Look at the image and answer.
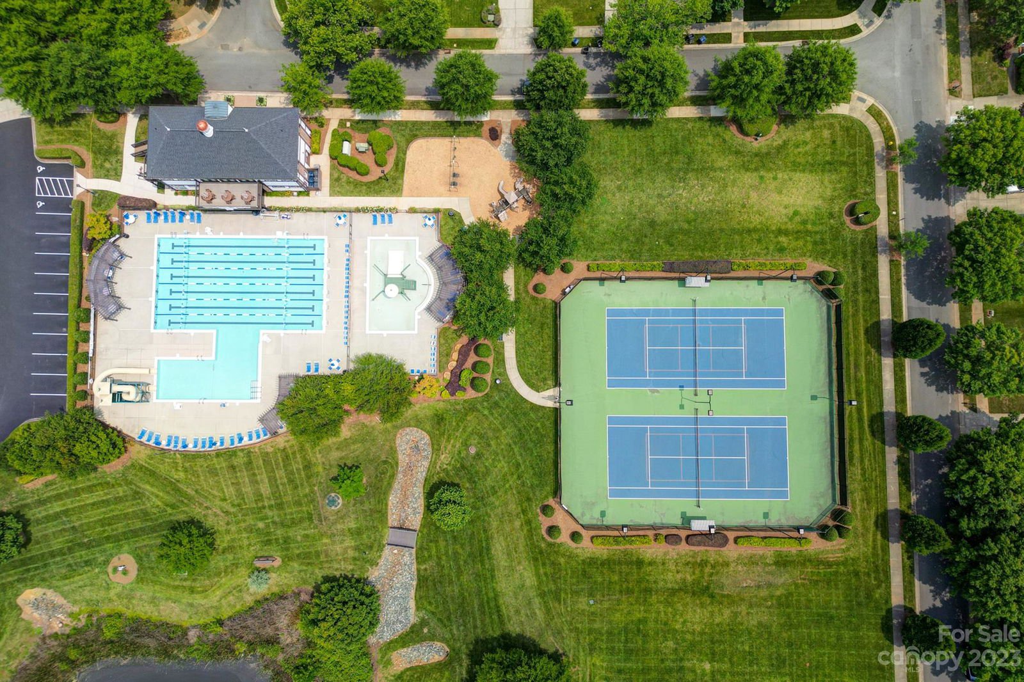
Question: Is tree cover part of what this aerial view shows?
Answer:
Yes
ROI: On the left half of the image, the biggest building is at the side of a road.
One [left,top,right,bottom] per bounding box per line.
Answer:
[131,99,311,213]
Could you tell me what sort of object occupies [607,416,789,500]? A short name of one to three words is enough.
tennis court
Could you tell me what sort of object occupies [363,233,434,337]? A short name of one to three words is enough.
swimming pool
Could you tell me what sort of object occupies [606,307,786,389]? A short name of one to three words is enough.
tennis court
